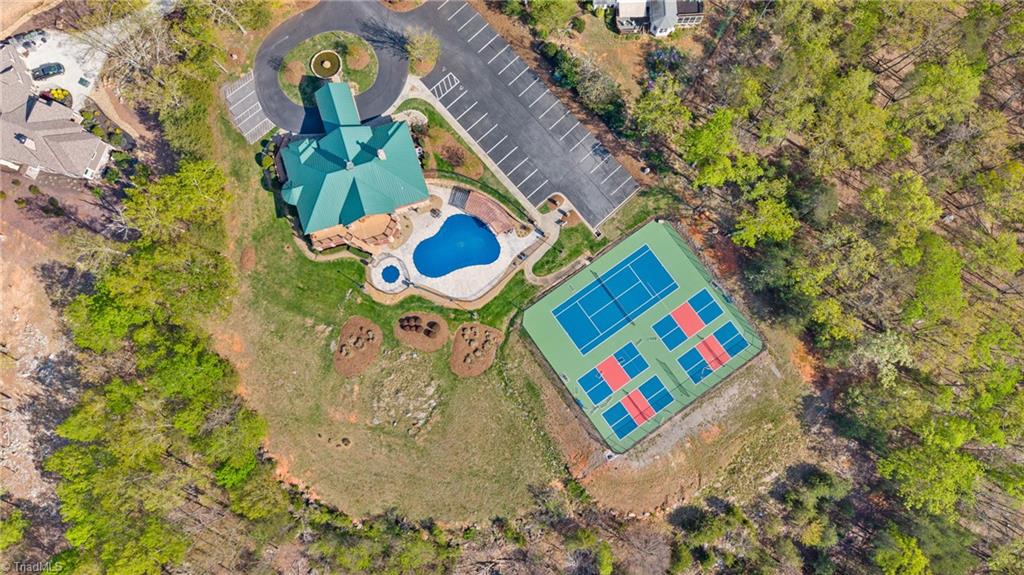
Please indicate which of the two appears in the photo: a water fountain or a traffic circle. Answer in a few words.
water fountain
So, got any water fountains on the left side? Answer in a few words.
Yes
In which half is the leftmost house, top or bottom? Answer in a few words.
top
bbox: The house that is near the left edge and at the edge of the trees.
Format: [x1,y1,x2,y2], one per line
[0,20,118,180]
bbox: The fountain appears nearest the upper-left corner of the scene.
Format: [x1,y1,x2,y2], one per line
[310,47,343,80]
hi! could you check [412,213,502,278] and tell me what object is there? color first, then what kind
blue swimming pool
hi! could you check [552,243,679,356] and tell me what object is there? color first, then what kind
blue tennis court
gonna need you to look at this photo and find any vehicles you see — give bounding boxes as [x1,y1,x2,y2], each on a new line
[33,64,65,80]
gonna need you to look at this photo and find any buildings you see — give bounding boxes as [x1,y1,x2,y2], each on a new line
[592,0,707,39]
[0,20,118,180]
[281,83,429,233]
